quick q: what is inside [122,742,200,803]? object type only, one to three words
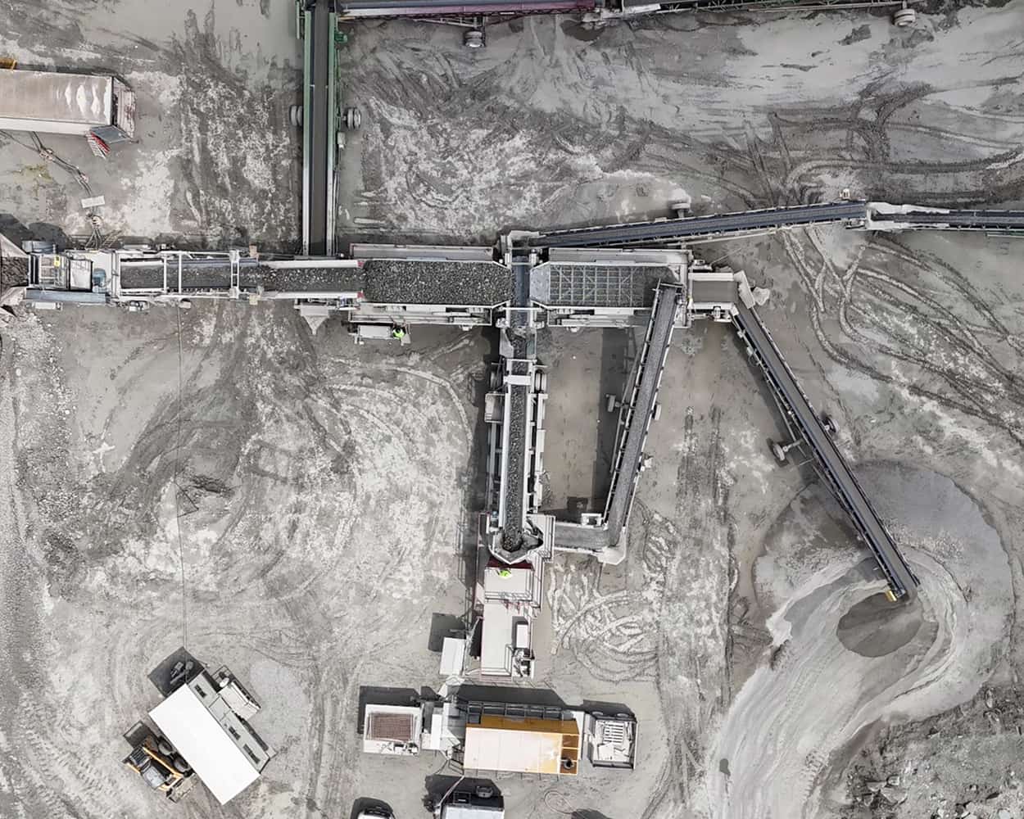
work vehicle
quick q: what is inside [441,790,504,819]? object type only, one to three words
van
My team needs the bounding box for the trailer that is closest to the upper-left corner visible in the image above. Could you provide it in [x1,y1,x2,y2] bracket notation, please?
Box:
[0,71,139,140]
